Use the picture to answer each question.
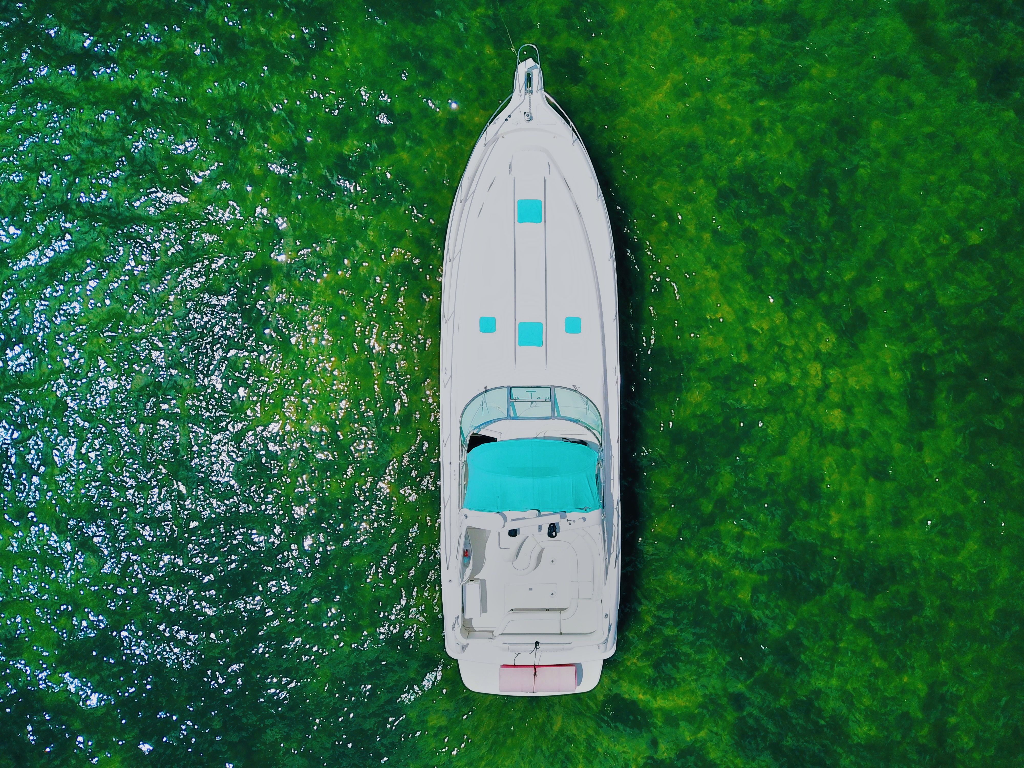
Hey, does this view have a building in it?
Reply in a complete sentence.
No, the frame has no building in it.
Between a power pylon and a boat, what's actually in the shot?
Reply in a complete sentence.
There is a boat in the scene.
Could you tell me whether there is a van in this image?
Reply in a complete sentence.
No, there appears to be no van in this shot.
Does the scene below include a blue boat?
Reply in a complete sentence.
No, no blue boat is visible in the view.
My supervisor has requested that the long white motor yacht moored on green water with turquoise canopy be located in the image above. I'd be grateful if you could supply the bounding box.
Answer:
[439,43,622,696]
